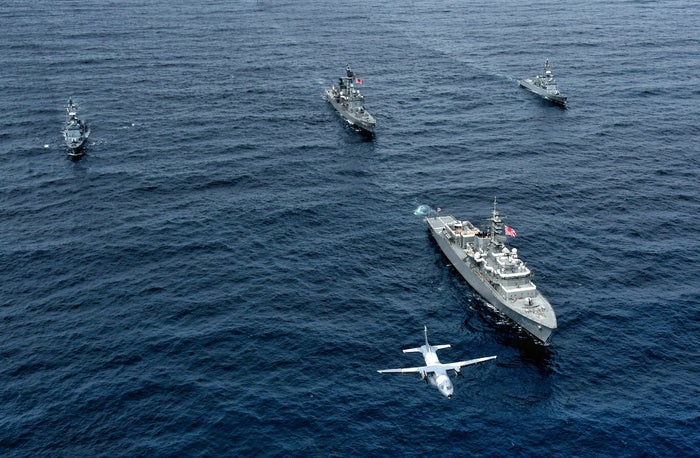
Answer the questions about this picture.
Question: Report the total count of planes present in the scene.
1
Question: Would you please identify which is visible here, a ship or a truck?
ship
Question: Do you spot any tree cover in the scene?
No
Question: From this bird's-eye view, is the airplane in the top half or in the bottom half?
bottom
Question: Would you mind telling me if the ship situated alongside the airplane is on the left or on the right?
right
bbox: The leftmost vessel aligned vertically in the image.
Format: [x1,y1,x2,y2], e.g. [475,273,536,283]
[64,96,83,154]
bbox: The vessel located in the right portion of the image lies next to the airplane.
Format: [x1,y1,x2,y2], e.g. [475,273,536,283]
[425,193,557,343]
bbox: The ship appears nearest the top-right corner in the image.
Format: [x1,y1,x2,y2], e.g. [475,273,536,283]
[518,62,568,105]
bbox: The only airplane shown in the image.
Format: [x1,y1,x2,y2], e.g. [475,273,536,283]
[377,324,497,396]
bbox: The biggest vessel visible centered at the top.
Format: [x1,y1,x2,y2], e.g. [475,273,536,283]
[325,65,376,129]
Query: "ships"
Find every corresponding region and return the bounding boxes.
[425,193,557,343]
[325,65,376,129]
[518,62,568,105]
[64,96,83,154]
